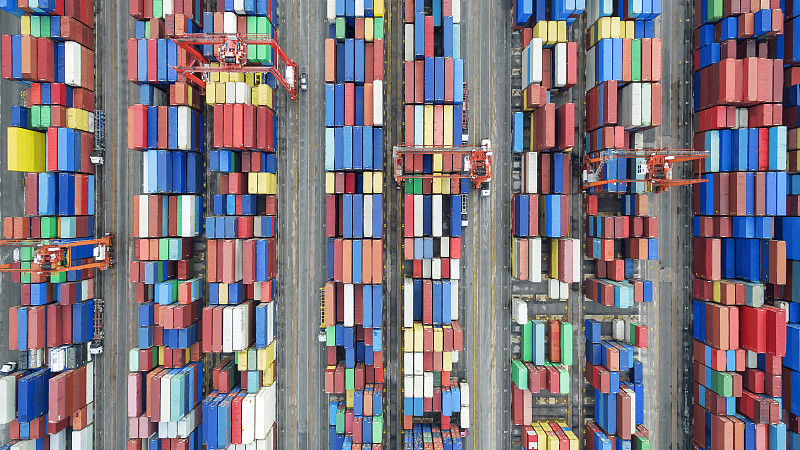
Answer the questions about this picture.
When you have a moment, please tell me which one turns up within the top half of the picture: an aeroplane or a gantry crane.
gantry crane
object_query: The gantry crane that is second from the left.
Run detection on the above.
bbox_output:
[170,31,298,102]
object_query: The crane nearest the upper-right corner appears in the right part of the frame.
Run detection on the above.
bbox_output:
[578,145,715,197]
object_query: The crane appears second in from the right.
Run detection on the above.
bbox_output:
[396,141,495,194]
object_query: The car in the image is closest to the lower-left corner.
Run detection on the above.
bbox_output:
[1,359,19,373]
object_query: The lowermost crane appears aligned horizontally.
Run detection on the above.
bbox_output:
[0,233,115,277]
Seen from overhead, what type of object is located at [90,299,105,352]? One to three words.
vehicle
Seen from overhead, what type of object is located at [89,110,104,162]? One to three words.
vehicle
